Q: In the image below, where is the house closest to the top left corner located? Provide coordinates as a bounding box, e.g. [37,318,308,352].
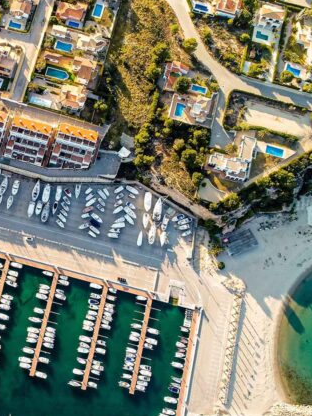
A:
[1,0,33,34]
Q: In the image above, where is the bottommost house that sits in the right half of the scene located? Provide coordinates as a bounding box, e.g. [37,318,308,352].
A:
[208,134,286,183]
